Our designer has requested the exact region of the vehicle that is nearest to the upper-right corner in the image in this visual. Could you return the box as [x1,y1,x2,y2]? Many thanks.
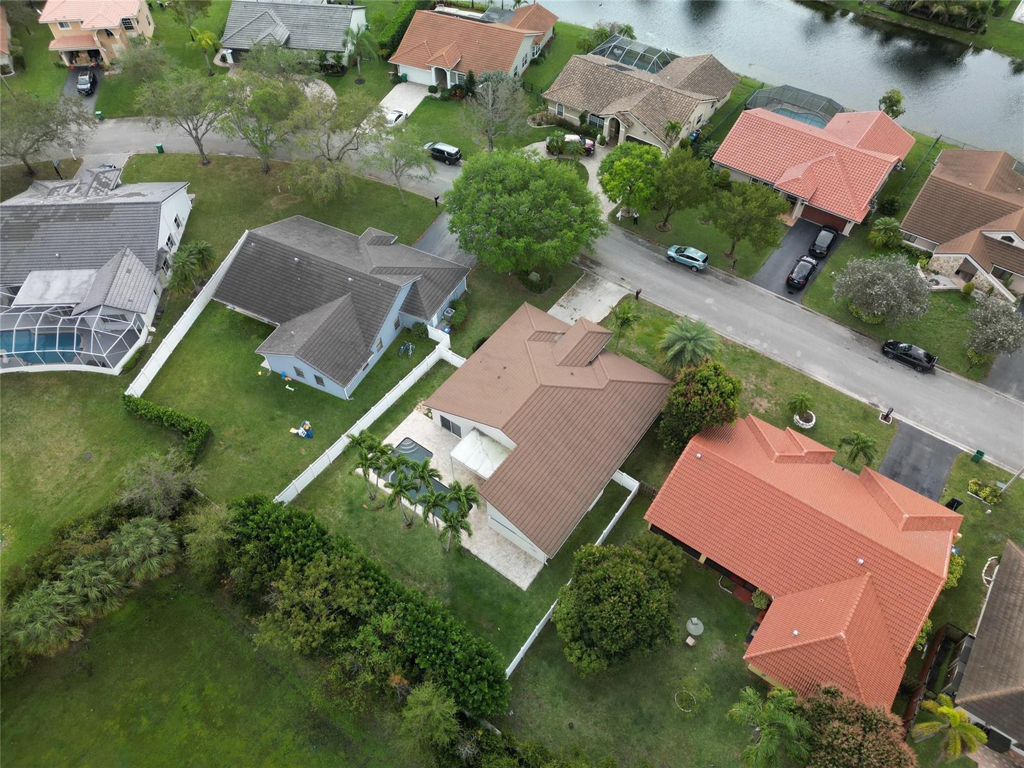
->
[806,228,836,260]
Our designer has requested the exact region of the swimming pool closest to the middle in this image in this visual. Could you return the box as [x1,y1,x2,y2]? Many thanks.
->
[373,436,473,523]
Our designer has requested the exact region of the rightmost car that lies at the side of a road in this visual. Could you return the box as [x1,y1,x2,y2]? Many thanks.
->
[881,341,942,374]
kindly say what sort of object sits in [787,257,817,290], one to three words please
car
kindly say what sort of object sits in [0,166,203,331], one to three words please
building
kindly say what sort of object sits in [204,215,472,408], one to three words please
house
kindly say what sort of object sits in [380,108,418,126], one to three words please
car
